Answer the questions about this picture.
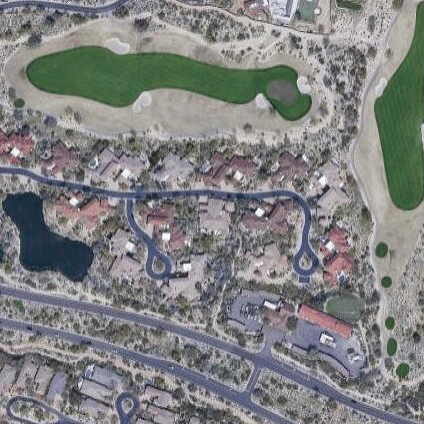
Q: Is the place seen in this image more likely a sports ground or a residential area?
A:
residential area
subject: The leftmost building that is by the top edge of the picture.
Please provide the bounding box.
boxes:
[244,0,270,20]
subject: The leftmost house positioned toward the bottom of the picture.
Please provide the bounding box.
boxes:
[0,362,17,394]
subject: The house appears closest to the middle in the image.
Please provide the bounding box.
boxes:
[197,195,235,234]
